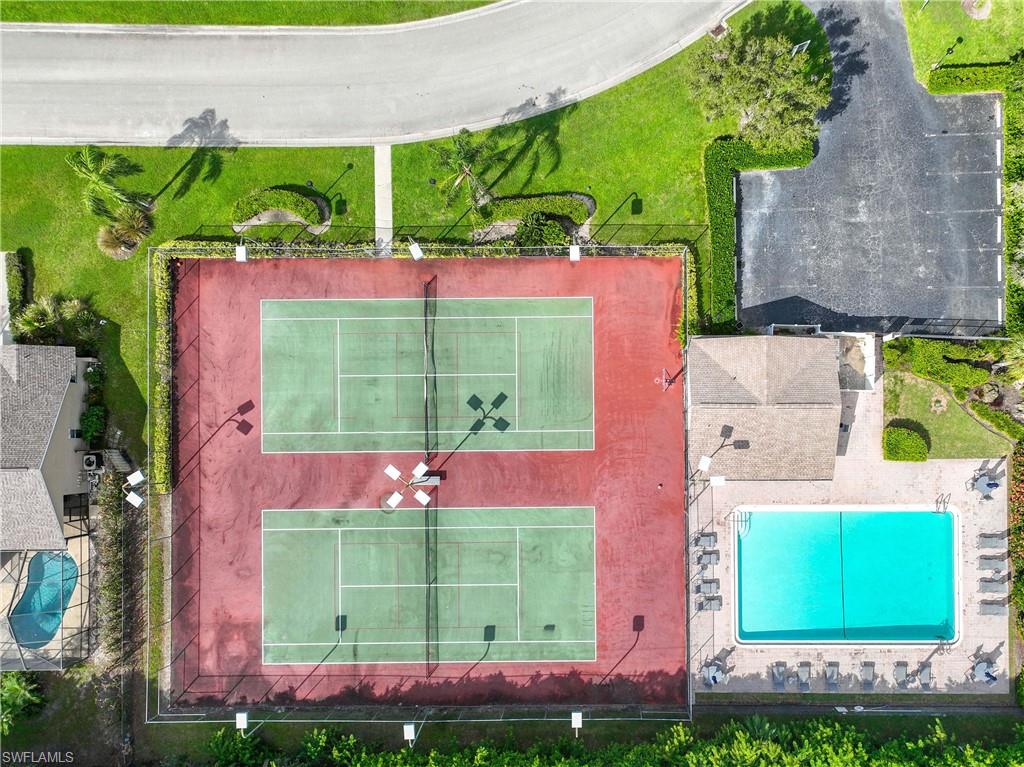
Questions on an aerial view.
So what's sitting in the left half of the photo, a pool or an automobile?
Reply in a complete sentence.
Looking in the left half of the photo, you will find a pool.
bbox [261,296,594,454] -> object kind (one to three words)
tennis court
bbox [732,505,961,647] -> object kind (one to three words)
swimming pool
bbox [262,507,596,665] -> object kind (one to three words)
tennis court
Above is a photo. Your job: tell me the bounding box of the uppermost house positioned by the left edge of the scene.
[0,344,93,551]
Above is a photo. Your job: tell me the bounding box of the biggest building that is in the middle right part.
[688,332,840,481]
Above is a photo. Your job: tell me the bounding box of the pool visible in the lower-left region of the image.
[7,550,78,651]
